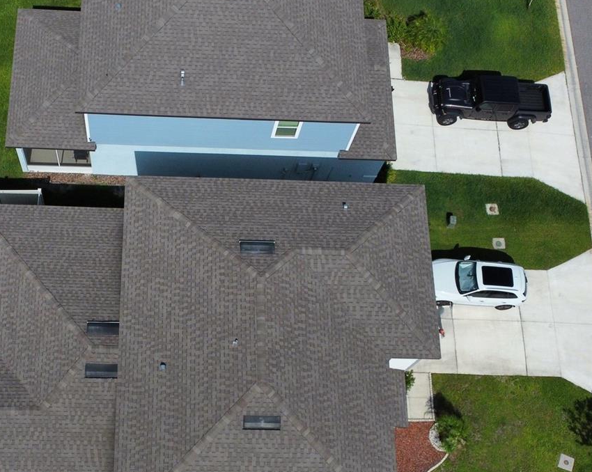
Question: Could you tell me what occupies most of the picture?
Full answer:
For the most part, this view shows buildings.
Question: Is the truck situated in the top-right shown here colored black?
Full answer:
Yes, the truck situated in the top-right is black.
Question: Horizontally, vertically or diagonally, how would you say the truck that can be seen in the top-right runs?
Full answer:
In this picture, the truck that can be seen in the top-right is oriented horizontally.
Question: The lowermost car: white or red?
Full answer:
In this view, the lowermost car is white.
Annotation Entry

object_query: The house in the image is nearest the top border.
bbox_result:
[5,0,399,183]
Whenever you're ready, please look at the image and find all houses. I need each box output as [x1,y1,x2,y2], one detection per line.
[0,176,441,472]
[5,0,399,183]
